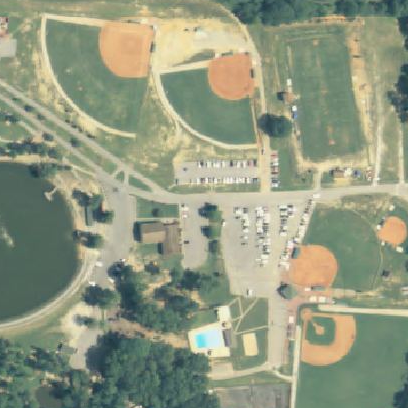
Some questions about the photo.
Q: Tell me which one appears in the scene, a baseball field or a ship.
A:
baseball field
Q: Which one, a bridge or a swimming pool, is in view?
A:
swimming pool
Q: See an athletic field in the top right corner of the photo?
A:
Yes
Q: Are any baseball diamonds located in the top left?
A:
Yes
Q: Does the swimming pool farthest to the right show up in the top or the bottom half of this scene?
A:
bottom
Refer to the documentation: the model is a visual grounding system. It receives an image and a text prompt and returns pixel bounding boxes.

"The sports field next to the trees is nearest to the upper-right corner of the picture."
[286,32,364,163]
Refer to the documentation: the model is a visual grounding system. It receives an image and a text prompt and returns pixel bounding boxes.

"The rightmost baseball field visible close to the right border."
[375,205,408,251]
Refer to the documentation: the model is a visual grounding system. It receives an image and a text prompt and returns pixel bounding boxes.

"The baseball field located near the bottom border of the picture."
[292,304,408,408]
